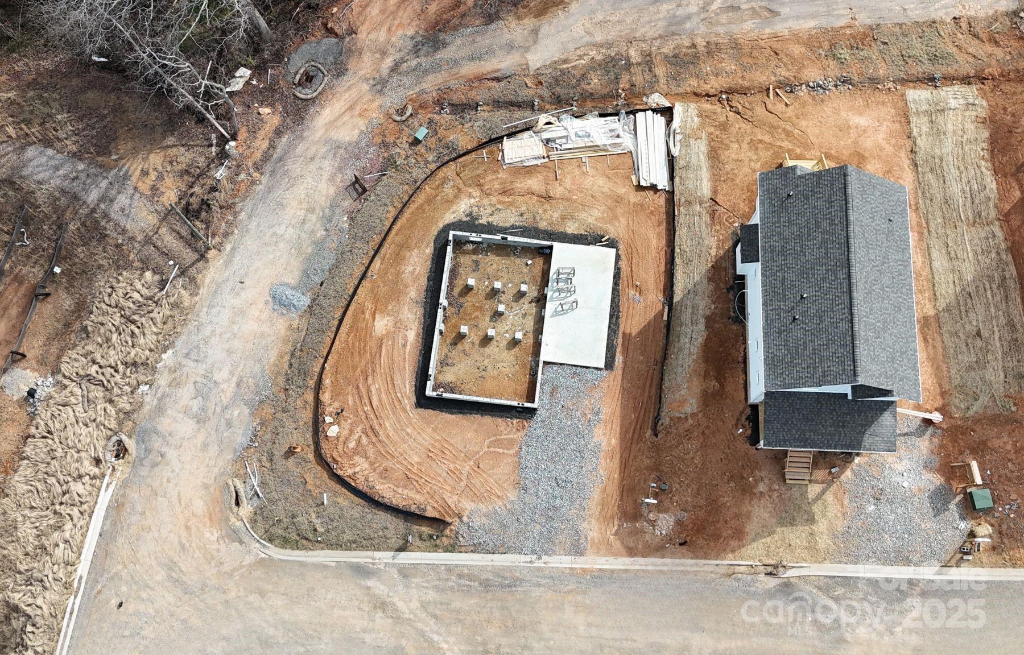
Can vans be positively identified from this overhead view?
No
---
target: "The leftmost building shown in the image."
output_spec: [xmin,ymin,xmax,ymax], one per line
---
[733,146,924,485]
